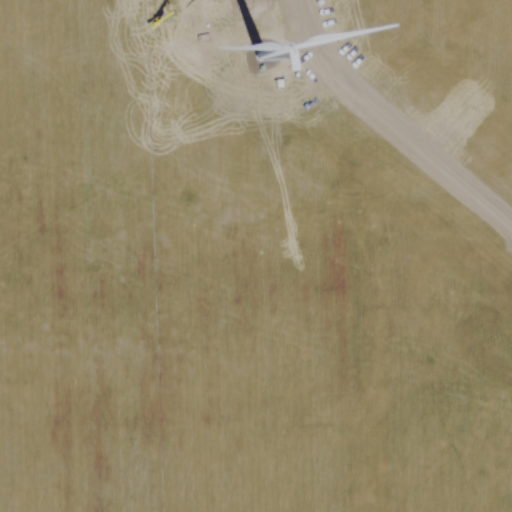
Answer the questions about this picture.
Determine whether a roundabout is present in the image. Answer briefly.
No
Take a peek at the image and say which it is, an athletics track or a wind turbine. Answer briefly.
wind turbine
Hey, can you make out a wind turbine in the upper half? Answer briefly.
Yes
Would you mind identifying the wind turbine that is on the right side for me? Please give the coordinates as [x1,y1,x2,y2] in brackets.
[220,24,399,71]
